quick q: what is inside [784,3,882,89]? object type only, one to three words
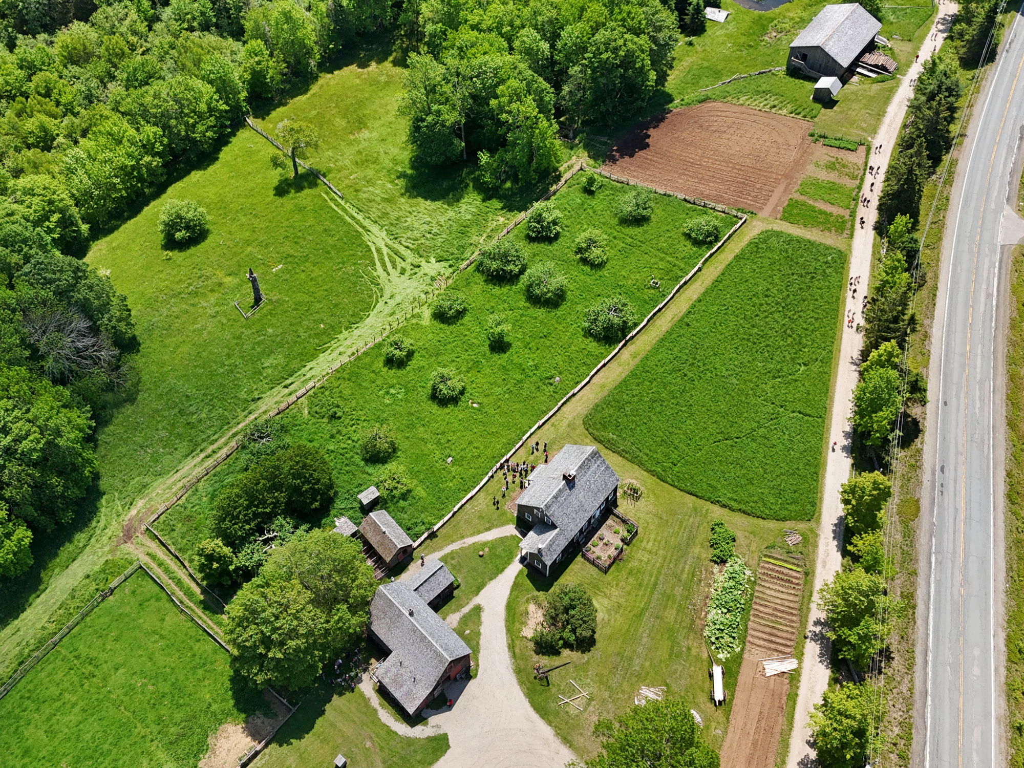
barn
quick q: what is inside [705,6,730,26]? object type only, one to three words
shed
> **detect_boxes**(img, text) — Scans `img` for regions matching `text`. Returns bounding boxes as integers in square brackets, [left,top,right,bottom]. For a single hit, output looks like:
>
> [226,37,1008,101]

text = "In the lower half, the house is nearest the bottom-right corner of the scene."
[515,445,620,577]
